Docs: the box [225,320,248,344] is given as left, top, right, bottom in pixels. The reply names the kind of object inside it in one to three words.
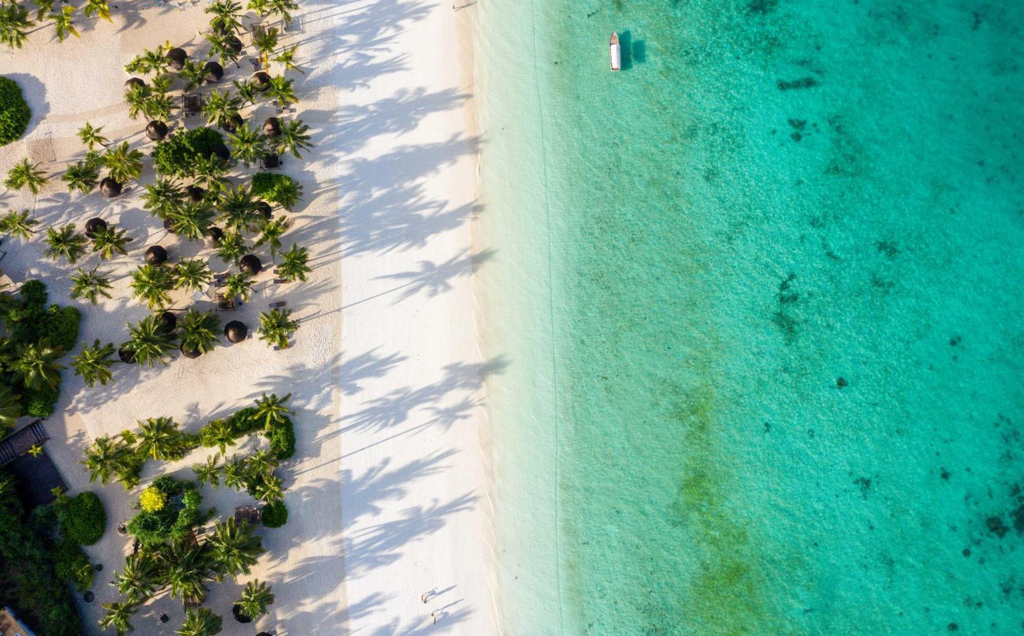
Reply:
umbrella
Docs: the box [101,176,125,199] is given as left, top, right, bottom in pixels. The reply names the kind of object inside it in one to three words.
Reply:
umbrella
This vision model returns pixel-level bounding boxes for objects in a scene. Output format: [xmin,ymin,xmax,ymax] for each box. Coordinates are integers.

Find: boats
[609,32,621,72]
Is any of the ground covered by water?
Yes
